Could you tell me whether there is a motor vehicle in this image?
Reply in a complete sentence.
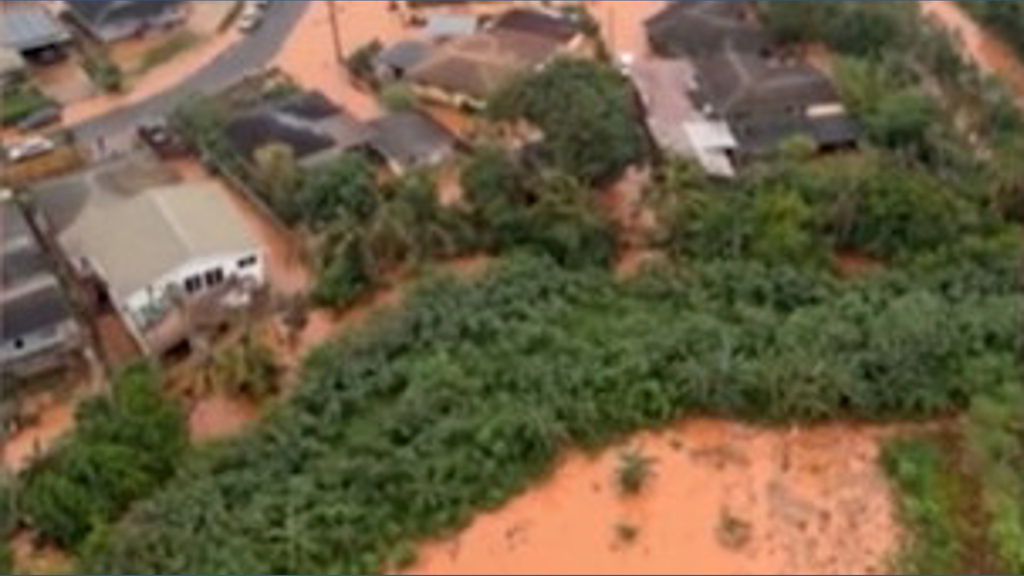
Yes, there's a motor vehicle here.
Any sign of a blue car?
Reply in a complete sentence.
No, the frame has no blue car in it.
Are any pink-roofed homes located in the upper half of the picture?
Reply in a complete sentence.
No, no pink-roofed home can be made out in the upper half of the picture.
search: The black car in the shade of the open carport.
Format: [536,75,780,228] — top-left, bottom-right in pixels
[29,45,56,66]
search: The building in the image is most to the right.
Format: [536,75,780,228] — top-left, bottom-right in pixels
[644,0,860,168]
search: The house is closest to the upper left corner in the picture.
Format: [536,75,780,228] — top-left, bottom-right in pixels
[0,5,82,70]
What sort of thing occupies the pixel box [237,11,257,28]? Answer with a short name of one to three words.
car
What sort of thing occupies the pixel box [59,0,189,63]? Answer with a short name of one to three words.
house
